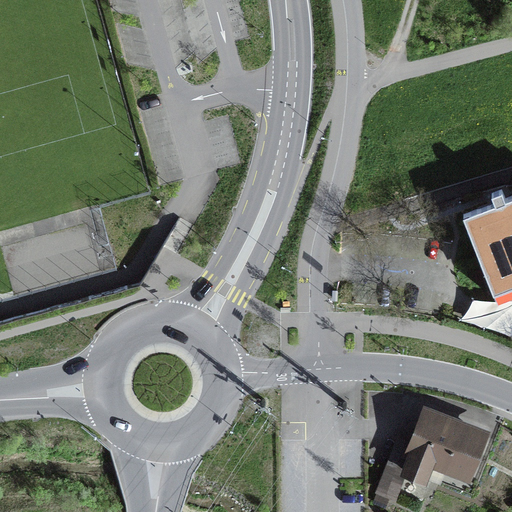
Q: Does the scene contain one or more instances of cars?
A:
Yes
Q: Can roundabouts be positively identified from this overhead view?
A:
Yes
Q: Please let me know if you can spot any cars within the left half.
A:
Yes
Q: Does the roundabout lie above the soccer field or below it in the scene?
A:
below it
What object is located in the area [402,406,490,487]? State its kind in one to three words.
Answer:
house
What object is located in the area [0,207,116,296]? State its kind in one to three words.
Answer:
sports court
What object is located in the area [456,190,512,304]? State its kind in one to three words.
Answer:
building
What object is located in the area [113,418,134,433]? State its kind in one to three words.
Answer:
car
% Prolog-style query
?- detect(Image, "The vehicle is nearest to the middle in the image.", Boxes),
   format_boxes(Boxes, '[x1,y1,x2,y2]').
[194,278,212,302]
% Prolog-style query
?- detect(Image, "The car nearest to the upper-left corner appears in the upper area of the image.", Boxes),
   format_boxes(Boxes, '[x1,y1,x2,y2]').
[138,97,160,109]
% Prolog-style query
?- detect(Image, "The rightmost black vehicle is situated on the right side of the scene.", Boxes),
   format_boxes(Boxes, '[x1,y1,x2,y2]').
[406,284,418,308]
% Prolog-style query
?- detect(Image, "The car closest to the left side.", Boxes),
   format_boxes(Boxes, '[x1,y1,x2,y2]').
[64,359,90,374]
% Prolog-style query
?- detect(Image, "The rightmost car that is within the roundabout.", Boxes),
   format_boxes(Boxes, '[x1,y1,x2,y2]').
[164,326,188,344]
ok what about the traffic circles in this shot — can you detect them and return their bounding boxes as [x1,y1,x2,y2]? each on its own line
[82,302,244,464]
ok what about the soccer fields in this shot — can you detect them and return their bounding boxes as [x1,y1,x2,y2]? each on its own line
[0,0,150,231]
